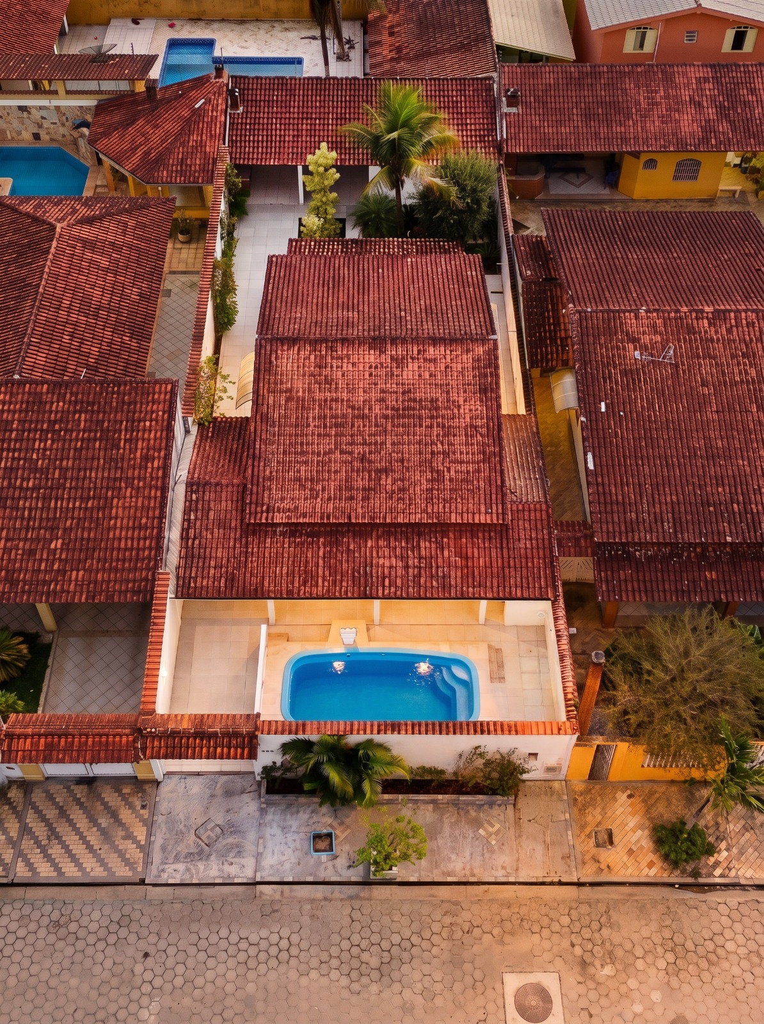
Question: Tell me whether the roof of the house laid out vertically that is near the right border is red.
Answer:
Yes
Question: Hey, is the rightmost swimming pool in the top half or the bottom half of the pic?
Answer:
bottom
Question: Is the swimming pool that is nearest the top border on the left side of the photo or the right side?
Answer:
left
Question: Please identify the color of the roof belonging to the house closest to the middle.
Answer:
red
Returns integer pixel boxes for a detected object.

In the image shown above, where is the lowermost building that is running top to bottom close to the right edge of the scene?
[542,206,764,636]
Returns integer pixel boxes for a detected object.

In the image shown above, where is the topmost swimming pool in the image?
[160,38,304,101]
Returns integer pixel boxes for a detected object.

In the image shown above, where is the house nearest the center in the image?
[176,236,557,623]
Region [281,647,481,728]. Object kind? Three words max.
swimming pool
